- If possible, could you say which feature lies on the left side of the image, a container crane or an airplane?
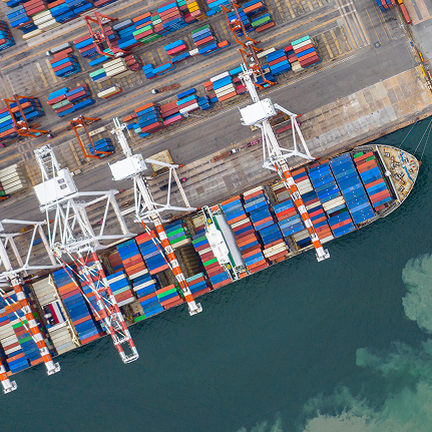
container crane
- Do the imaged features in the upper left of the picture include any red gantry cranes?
Yes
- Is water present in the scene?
Yes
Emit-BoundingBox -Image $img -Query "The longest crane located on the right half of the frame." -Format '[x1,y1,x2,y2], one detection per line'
[234,60,330,265]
